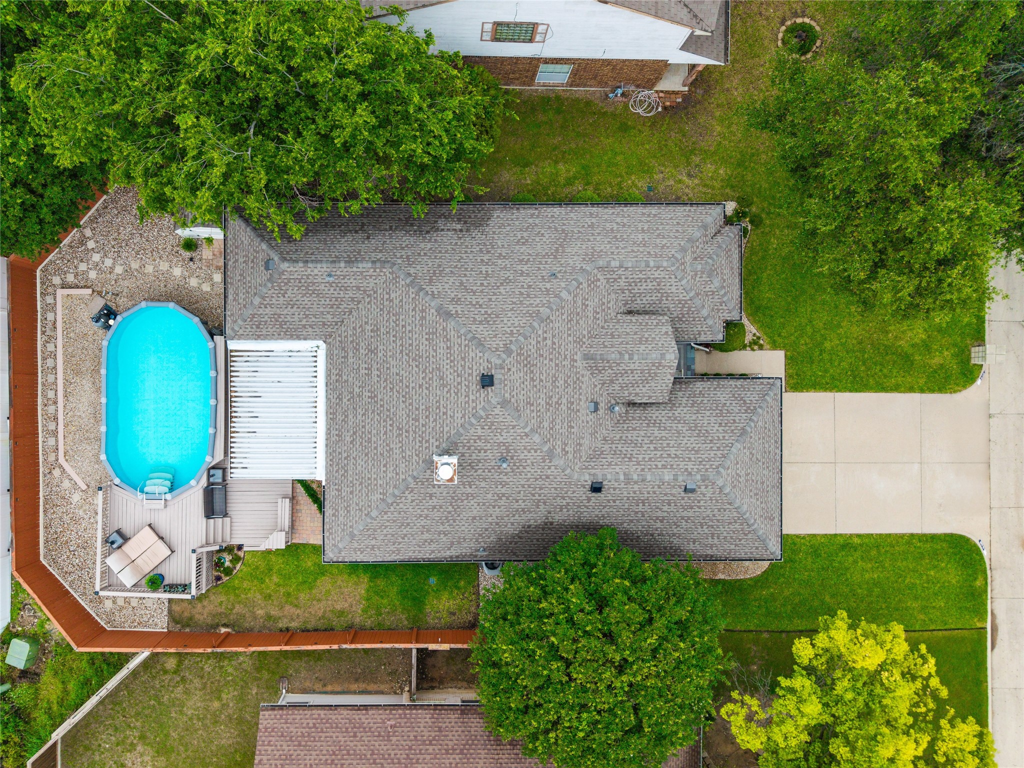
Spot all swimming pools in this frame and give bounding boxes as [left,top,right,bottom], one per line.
[100,301,217,499]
